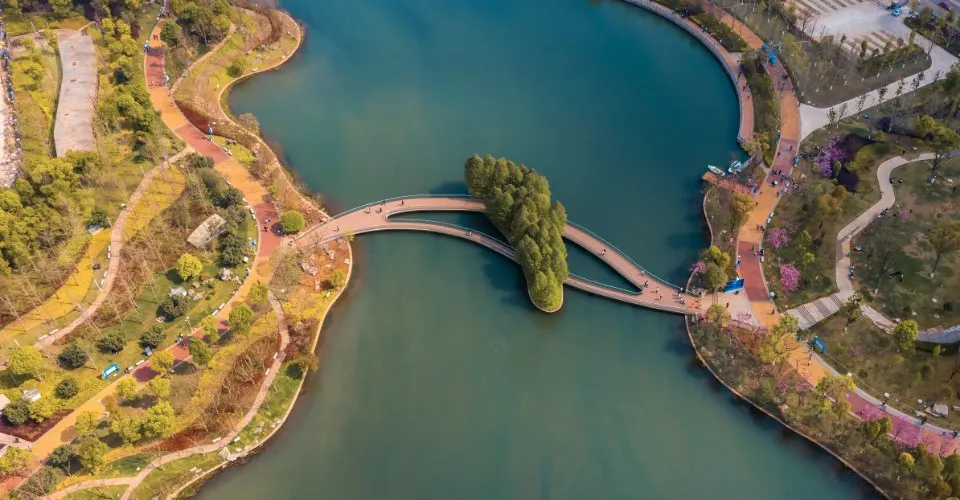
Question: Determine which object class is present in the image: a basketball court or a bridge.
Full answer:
This aerial view contains a bridge.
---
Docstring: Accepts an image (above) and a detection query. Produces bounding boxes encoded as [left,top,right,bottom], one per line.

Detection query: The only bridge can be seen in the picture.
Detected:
[295,194,701,318]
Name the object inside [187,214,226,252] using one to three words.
building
